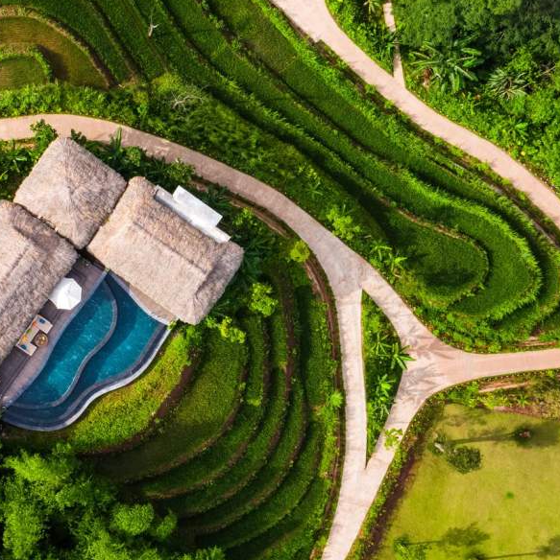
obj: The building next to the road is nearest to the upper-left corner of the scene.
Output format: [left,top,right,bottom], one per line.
[13,136,128,251]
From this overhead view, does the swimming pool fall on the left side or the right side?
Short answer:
left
